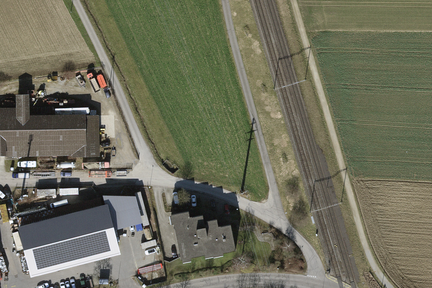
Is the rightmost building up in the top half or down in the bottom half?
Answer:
bottom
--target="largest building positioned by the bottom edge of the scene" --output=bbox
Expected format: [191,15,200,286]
[18,204,120,278]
